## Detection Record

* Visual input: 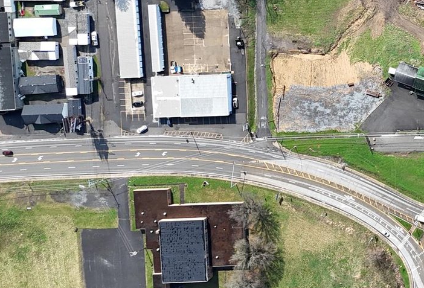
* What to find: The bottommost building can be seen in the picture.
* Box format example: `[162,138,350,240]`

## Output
[134,189,247,288]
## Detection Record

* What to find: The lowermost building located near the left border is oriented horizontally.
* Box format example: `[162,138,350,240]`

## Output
[19,100,85,124]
